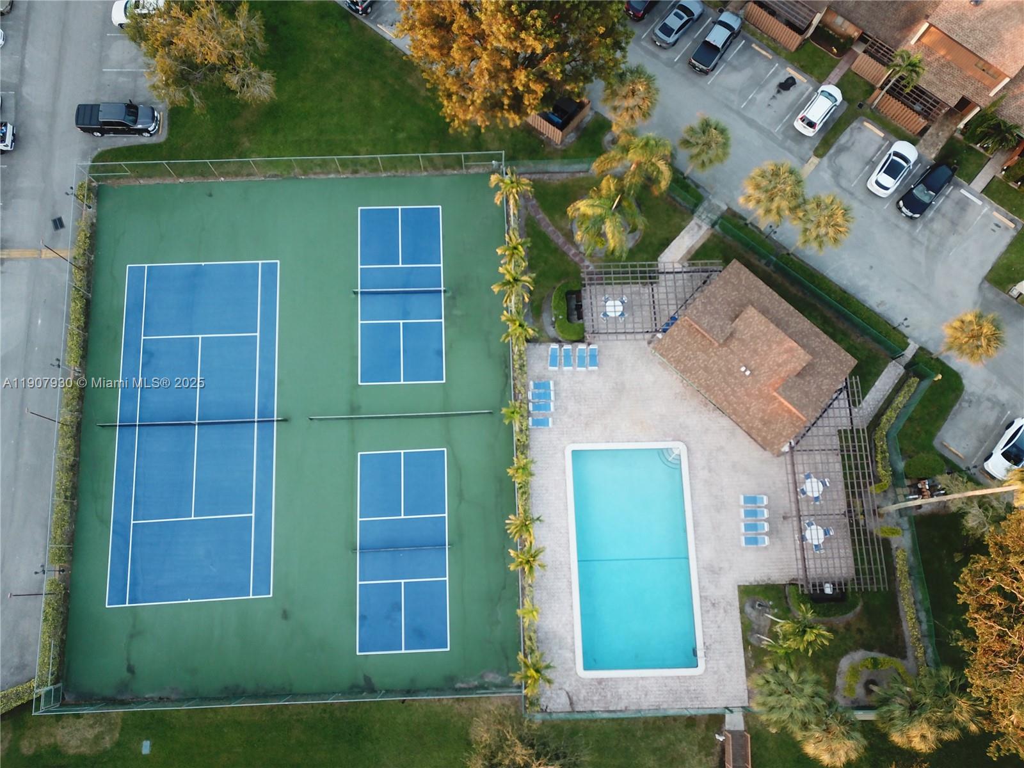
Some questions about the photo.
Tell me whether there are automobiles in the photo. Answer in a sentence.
Yes, an automobile appears in the view.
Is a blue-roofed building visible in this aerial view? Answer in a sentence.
No, I can't see a single blue-roofed building in this photo.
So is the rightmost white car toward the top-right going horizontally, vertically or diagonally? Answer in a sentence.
I'd say the rightmost white car toward the top-right is aligned diagonally in the picture.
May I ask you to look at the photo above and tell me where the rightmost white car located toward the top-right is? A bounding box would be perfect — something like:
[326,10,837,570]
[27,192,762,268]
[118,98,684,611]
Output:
[868,142,918,200]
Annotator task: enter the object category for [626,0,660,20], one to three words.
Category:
car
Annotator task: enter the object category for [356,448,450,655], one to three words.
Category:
sports court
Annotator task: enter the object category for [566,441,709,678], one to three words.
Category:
swimming pool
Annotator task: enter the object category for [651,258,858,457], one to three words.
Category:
building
